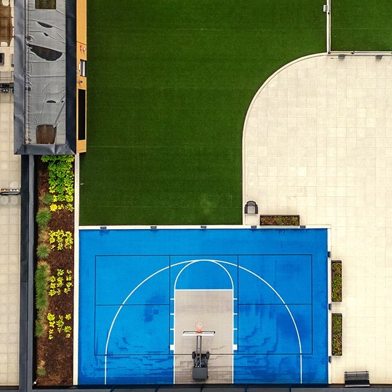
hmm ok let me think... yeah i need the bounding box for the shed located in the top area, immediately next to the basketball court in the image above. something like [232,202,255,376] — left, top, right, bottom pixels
[14,0,87,155]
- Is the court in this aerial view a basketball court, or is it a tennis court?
basketball court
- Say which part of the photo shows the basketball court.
bottom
